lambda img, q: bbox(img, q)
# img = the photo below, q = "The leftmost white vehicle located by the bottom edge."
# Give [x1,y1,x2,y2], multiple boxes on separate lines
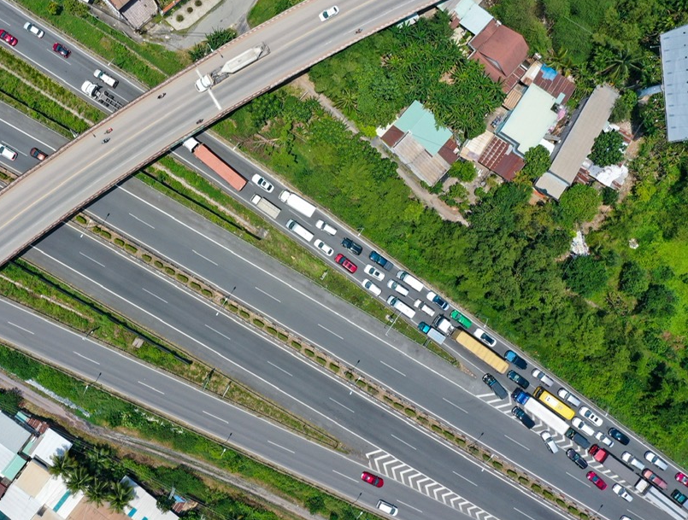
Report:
[374,499,398,515]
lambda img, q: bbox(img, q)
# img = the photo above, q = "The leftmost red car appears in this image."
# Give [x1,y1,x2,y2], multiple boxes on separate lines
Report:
[0,28,20,47]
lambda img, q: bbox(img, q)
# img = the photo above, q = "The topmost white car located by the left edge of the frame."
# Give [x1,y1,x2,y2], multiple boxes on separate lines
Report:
[21,20,46,40]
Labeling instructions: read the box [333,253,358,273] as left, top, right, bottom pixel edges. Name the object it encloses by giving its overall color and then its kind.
red car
